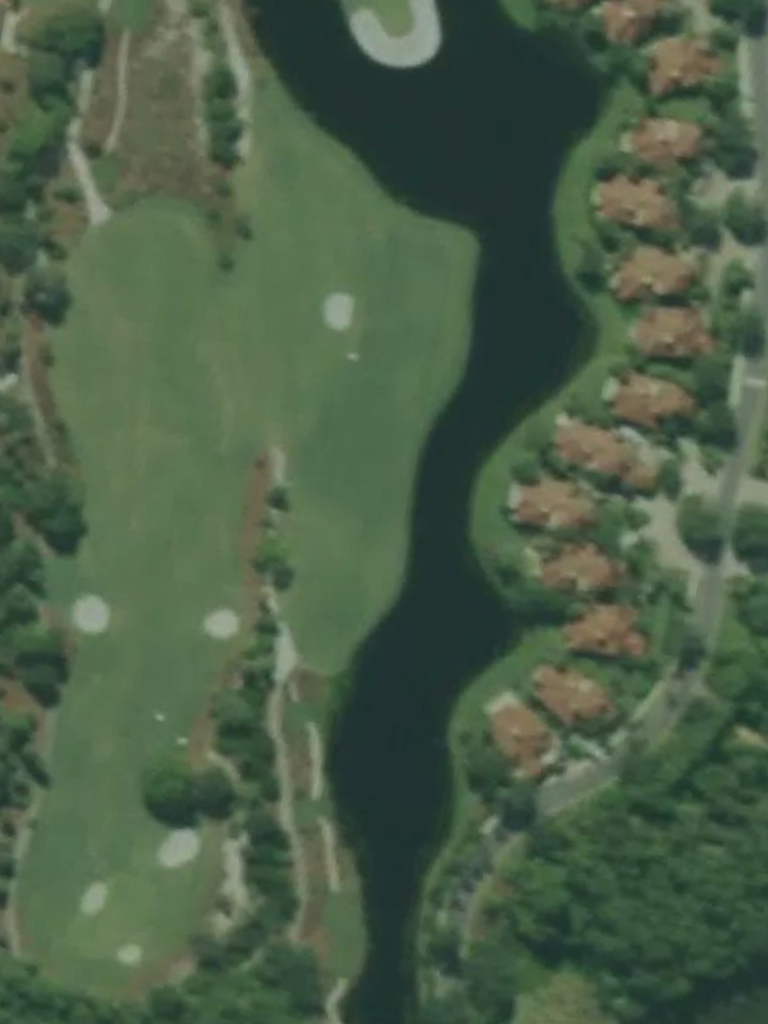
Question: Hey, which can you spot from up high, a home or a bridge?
home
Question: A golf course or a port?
golf course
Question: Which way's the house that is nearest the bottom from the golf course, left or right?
on the right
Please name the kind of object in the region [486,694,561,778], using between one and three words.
house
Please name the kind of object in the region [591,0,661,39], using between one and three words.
house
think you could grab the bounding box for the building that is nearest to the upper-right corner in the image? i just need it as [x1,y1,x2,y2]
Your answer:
[645,32,723,92]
